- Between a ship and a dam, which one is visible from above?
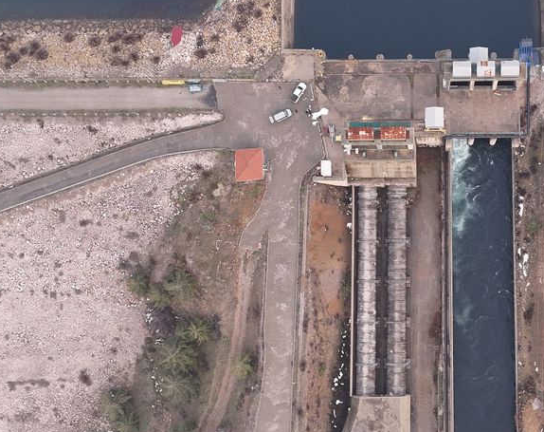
dam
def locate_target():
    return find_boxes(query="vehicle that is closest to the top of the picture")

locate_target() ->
[289,82,309,104]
